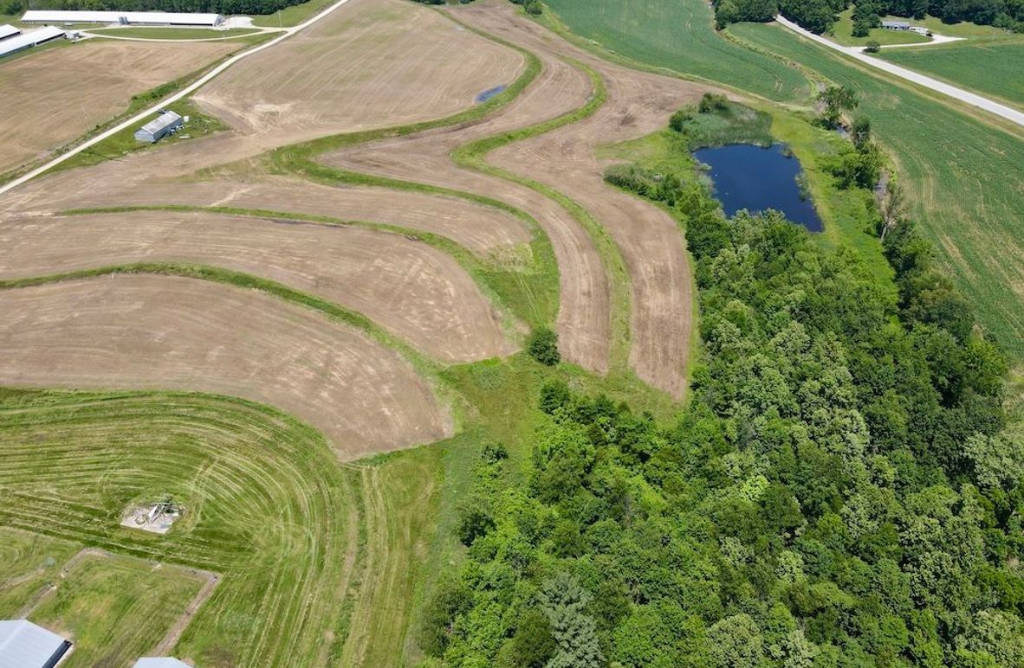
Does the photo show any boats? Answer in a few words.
No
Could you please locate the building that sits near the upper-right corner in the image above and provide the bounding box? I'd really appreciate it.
[875,17,913,34]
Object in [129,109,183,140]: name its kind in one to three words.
shed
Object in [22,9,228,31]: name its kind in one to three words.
barn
